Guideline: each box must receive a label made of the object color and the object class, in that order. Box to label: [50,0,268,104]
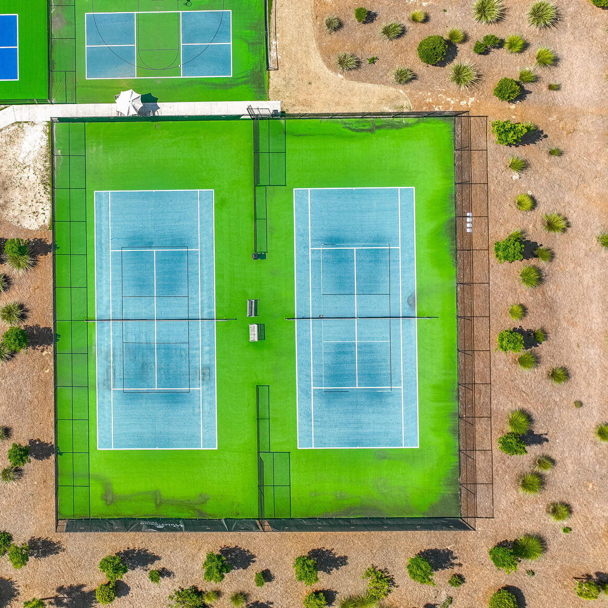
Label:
green basketball court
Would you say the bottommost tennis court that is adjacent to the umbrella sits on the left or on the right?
left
